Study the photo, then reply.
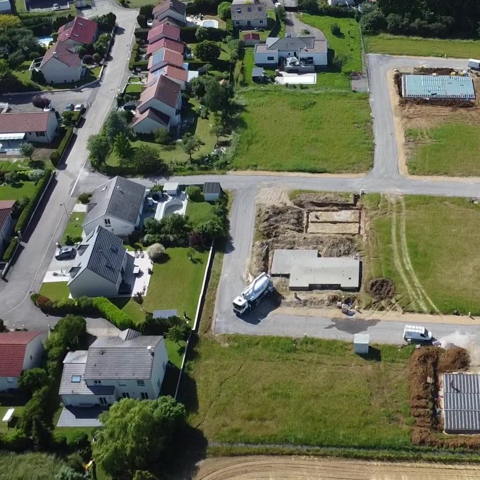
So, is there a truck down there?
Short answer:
Yes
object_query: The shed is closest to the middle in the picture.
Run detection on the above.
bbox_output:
[203,178,222,201]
